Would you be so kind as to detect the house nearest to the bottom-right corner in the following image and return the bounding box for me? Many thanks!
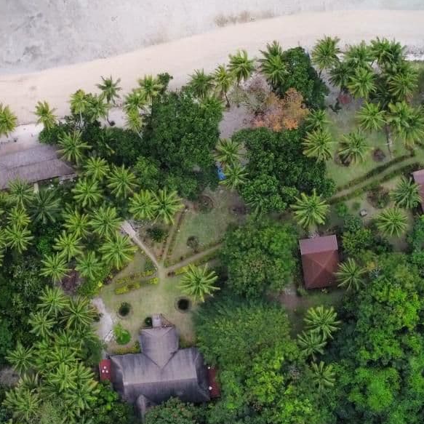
[298,235,341,290]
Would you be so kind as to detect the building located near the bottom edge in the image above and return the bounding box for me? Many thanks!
[99,315,219,418]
